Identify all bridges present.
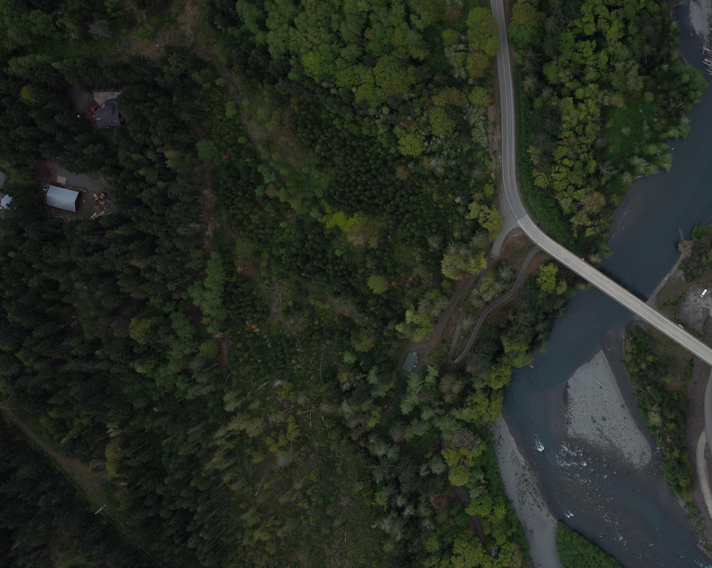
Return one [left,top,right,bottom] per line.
[518,213,712,367]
